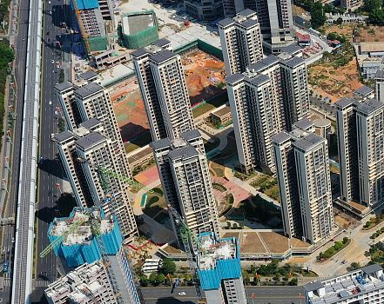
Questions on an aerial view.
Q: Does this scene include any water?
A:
No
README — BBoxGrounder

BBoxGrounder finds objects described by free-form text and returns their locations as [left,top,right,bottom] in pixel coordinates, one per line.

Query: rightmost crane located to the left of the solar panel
[166,179,204,296]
